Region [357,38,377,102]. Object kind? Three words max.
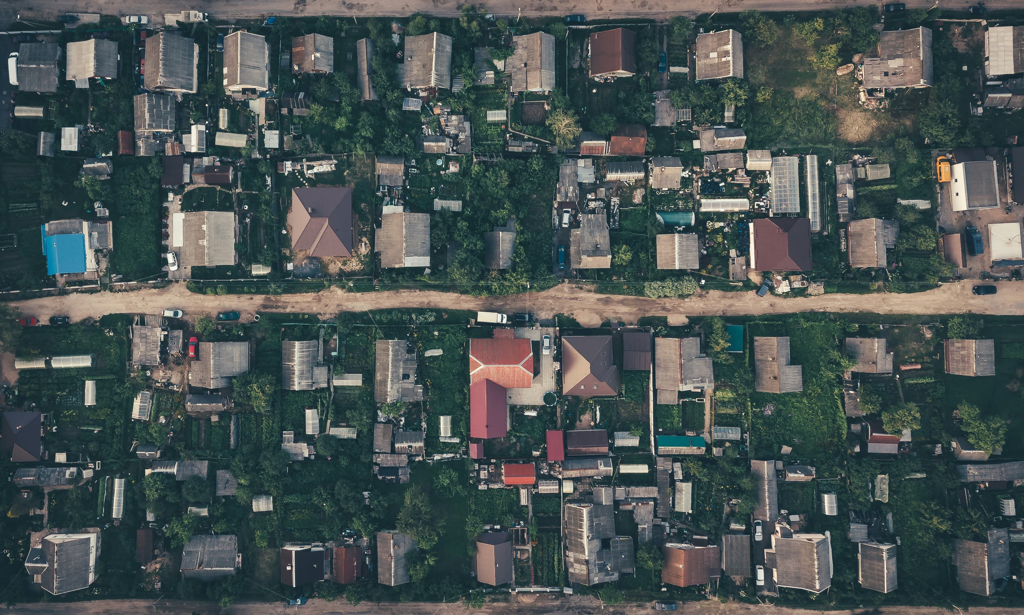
barn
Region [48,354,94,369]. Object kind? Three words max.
greenhouse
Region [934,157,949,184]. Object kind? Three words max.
vehicle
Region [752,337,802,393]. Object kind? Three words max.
house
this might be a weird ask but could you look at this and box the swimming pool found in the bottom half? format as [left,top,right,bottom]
[542,392,557,407]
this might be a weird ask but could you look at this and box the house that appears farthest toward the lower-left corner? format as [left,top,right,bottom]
[23,532,102,592]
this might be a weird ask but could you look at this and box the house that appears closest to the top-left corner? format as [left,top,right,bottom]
[17,43,64,93]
